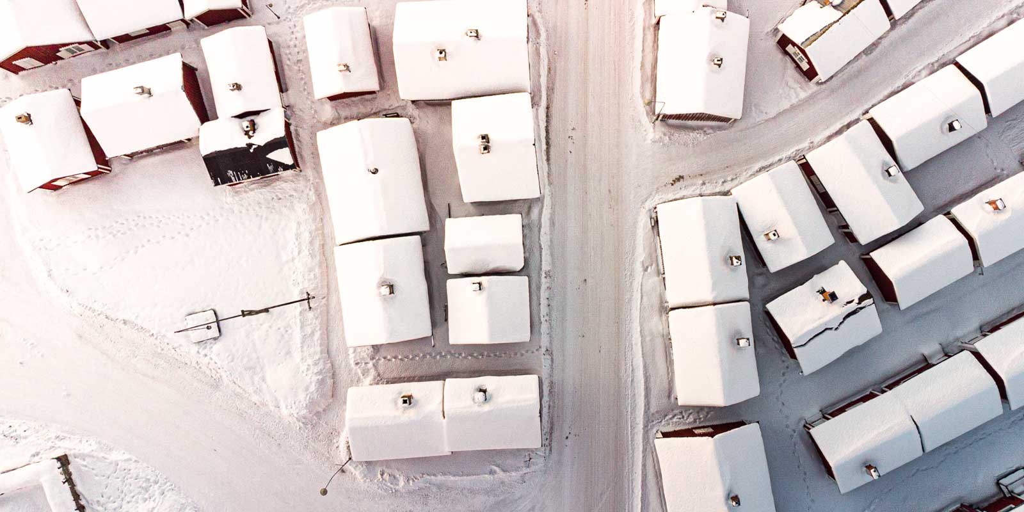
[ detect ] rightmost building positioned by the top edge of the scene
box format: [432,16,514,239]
[954,20,1024,117]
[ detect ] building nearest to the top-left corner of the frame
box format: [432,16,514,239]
[0,0,108,73]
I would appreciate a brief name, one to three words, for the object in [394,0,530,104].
building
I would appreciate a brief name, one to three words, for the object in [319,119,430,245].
building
